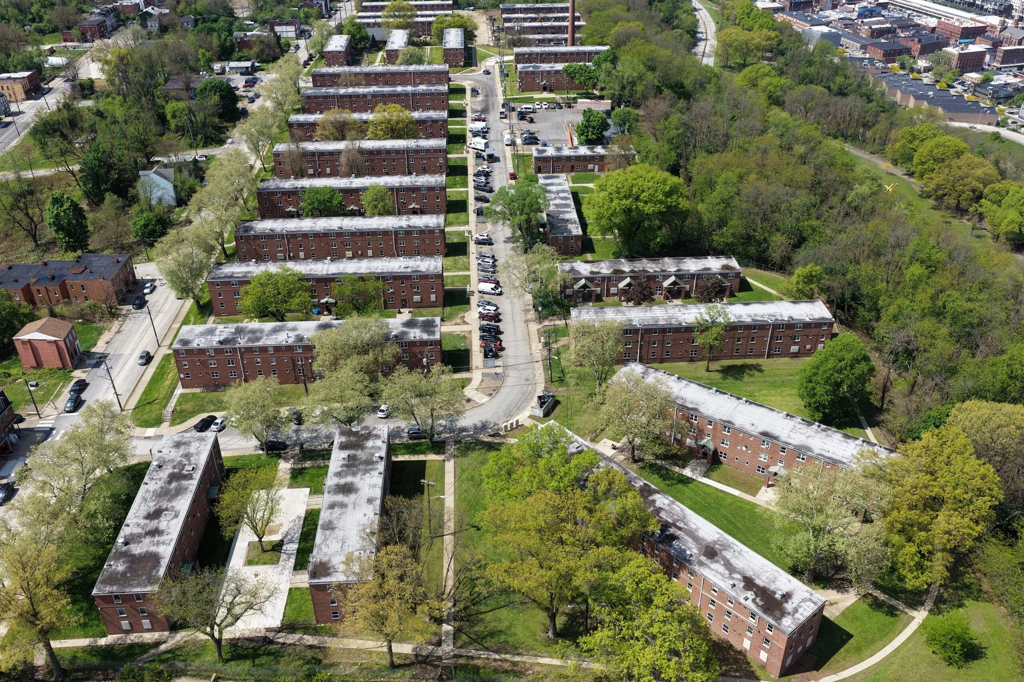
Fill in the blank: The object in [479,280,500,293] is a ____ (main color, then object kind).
white vehicle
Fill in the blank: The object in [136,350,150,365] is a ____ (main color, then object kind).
gray car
